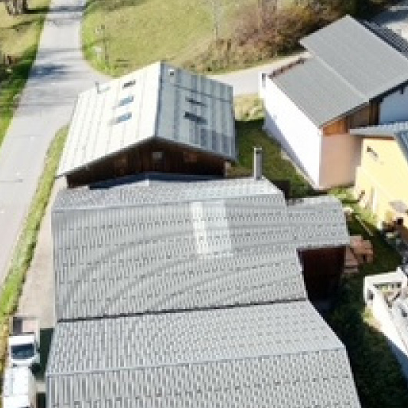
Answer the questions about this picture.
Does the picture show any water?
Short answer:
No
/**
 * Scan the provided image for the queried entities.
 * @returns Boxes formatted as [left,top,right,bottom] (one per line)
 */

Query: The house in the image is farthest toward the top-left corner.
[55,61,239,183]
